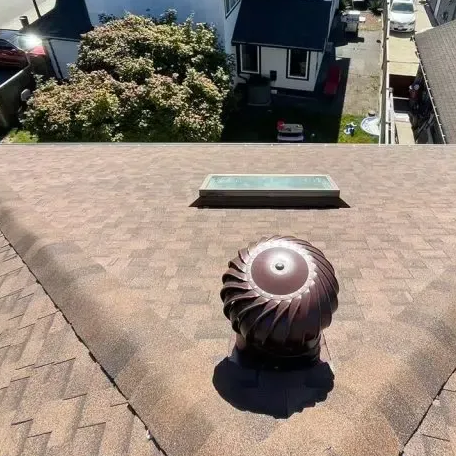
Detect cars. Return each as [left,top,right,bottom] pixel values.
[0,26,45,68]
[381,0,418,33]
